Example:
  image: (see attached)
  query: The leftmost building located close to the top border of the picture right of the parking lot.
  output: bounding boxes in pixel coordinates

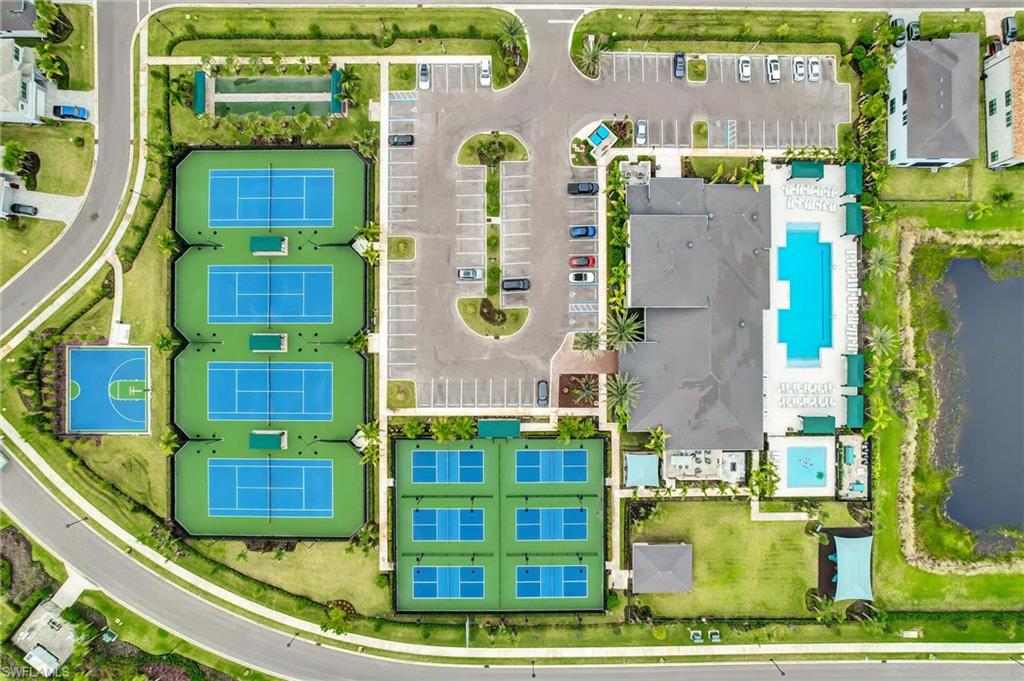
[889,33,979,173]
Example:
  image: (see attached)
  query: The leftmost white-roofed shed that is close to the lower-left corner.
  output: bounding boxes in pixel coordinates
[25,639,67,677]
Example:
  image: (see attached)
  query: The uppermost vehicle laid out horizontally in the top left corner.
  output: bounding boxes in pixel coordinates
[54,105,90,119]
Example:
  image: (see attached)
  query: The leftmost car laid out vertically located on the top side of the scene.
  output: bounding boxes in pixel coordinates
[418,64,430,90]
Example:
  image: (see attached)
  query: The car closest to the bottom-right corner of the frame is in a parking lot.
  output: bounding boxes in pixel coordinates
[536,380,549,406]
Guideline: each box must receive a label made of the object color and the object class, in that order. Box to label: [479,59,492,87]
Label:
white vehicle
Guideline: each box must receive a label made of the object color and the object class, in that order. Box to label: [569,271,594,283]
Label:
white vehicle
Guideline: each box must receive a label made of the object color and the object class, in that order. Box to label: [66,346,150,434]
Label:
blue basketball court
